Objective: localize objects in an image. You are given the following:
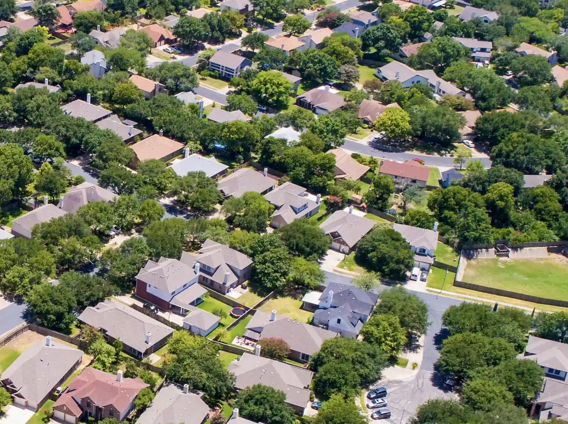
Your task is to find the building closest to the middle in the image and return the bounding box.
[267,182,321,232]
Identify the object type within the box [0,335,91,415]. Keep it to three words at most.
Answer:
house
